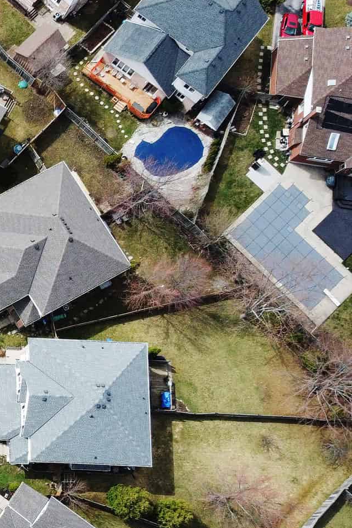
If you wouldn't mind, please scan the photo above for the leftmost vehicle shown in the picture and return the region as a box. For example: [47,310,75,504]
[279,11,301,39]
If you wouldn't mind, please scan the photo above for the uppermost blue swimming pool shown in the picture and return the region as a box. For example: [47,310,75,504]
[132,123,207,179]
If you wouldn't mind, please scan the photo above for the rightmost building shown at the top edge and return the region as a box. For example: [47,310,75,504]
[265,14,352,174]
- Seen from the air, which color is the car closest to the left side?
red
